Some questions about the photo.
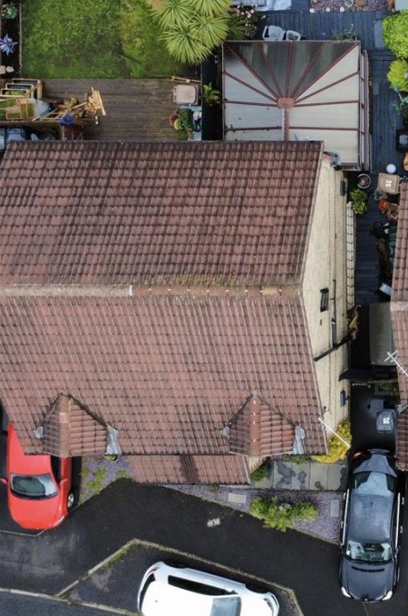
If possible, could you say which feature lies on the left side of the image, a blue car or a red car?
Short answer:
red car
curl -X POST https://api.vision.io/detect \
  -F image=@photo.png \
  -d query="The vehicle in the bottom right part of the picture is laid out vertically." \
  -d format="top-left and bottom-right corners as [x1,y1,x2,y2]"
[334,449,405,600]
